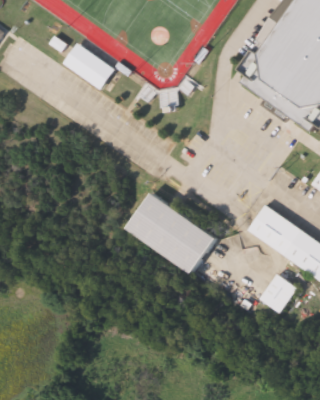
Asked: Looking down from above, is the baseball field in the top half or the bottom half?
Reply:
top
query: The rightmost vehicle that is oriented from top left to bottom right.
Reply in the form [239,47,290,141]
[280,268,295,280]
